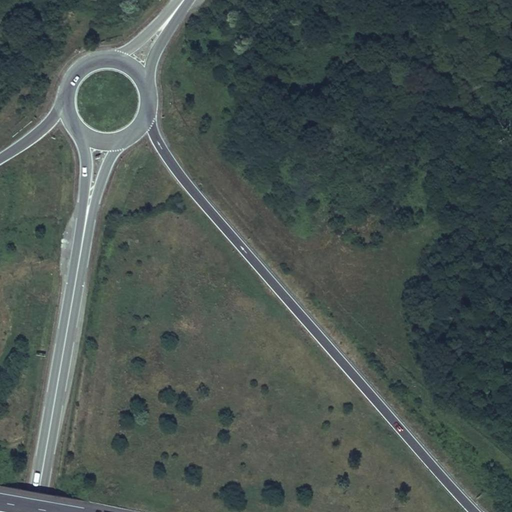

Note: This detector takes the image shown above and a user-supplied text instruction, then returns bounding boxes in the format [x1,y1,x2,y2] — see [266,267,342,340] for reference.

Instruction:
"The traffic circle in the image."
[56,50,158,152]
